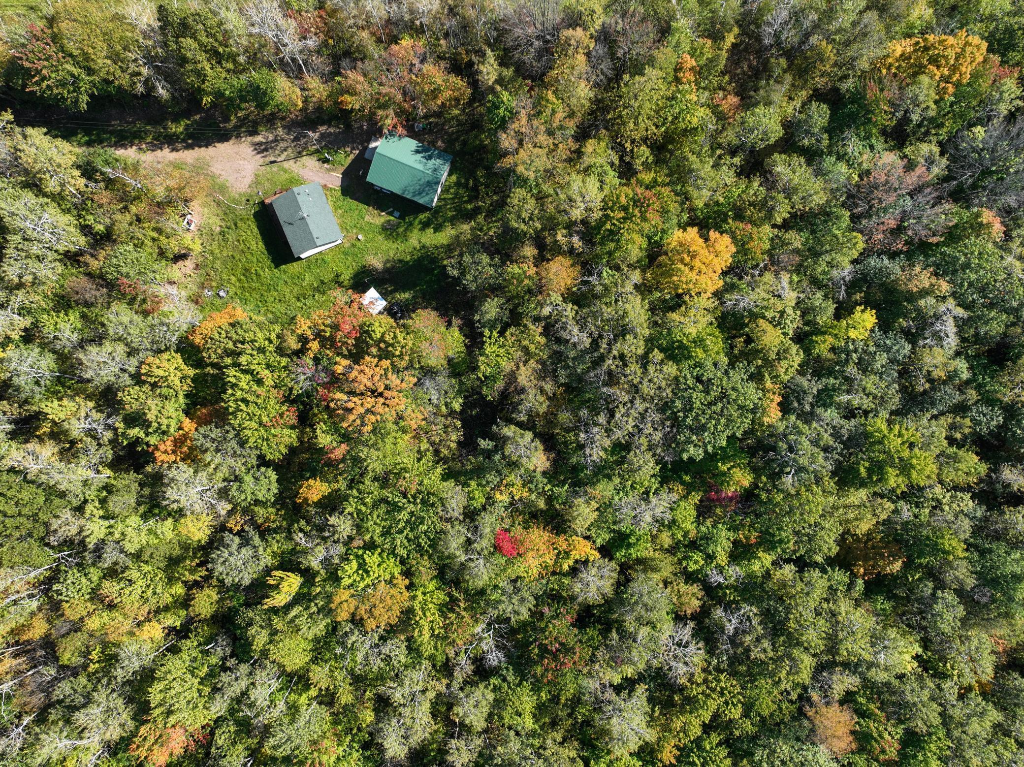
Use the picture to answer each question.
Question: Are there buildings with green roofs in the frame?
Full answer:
Yes, the picture does show a building with a green roof.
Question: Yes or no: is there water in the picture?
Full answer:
No, there is no water in the image.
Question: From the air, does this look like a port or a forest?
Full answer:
It's a forest.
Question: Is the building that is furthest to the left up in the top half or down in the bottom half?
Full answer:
Seen from above, the building that is furthest to the left lies in the top half of the view.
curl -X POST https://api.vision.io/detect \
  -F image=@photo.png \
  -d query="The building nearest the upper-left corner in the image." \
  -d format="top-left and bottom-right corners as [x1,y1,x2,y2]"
[262,181,345,260]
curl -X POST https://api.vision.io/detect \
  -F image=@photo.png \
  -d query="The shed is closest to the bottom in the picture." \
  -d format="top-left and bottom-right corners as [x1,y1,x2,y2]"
[361,287,388,315]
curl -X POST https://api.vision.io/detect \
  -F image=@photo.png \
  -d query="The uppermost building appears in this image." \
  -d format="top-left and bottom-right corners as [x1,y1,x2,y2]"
[366,131,452,210]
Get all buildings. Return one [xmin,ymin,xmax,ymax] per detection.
[366,131,452,210]
[262,181,345,260]
[361,287,388,315]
